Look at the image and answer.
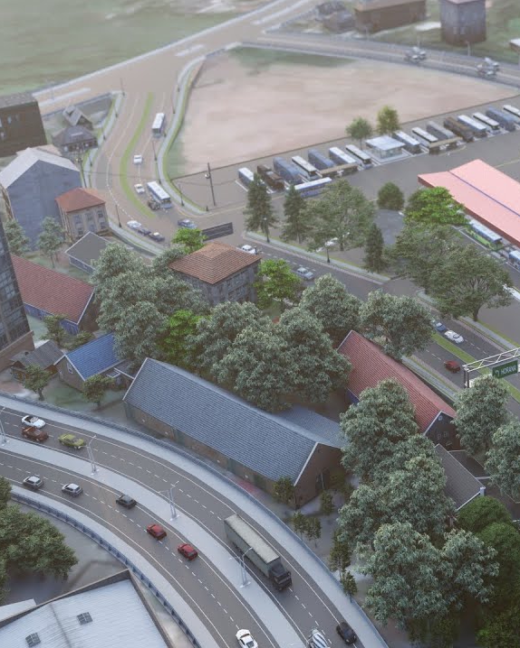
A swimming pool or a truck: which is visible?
truck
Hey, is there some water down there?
No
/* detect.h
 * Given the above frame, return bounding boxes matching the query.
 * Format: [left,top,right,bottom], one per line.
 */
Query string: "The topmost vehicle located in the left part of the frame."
[151,115,167,139]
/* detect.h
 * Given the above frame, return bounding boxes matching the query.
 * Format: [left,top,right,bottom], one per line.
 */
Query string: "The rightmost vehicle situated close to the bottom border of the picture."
[335,615,358,645]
